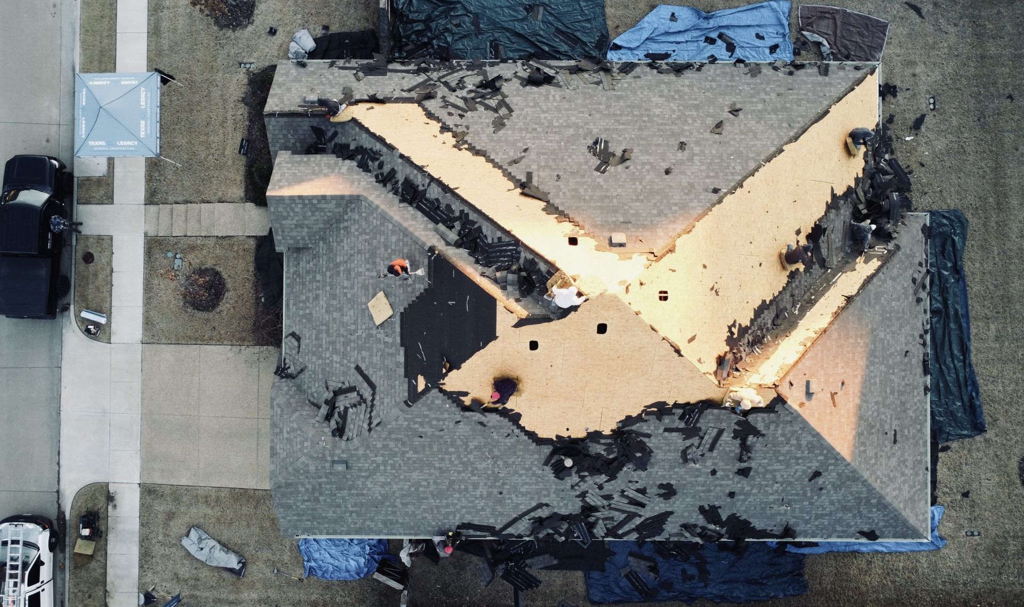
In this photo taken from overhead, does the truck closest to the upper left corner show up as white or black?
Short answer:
black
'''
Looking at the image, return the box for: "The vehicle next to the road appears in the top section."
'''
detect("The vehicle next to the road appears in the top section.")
[0,152,77,319]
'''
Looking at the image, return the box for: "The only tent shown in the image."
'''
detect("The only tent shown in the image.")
[75,69,186,168]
